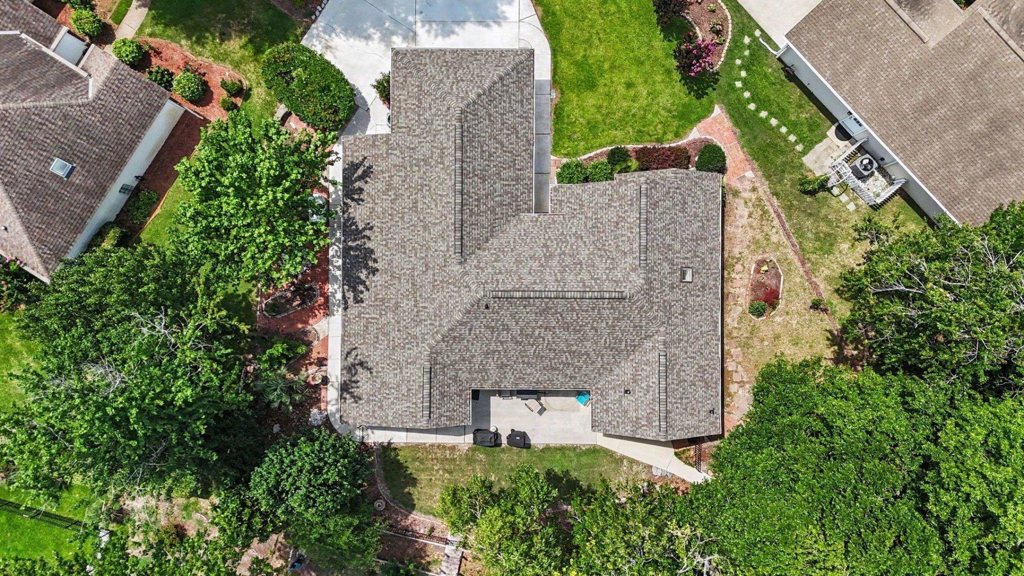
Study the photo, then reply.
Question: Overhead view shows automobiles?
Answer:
No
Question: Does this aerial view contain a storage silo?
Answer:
No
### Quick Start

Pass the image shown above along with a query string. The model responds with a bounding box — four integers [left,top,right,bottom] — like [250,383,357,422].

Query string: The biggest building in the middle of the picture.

[339,48,721,442]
